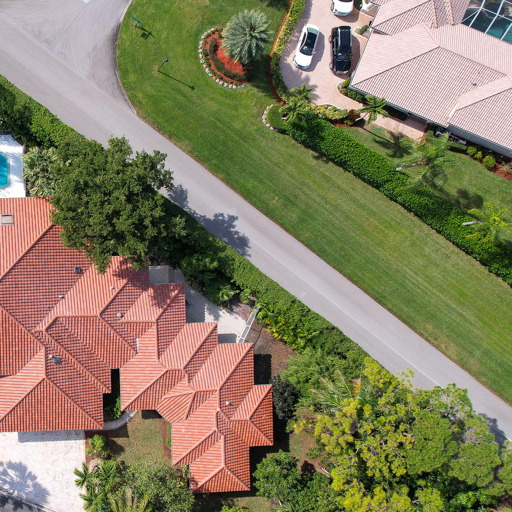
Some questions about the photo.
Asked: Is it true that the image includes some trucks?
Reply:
No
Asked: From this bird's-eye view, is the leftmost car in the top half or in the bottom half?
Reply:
top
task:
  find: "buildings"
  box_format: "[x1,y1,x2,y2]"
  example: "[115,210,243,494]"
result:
[343,0,512,161]
[0,196,275,494]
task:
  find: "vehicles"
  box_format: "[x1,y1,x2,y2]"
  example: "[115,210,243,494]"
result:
[328,24,356,76]
[330,0,356,18]
[290,21,321,74]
